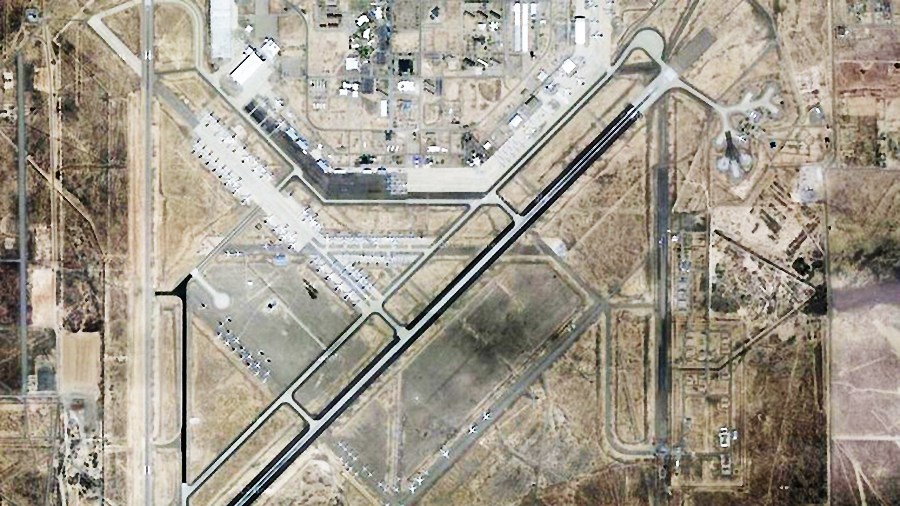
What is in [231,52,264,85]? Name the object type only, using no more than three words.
hangar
